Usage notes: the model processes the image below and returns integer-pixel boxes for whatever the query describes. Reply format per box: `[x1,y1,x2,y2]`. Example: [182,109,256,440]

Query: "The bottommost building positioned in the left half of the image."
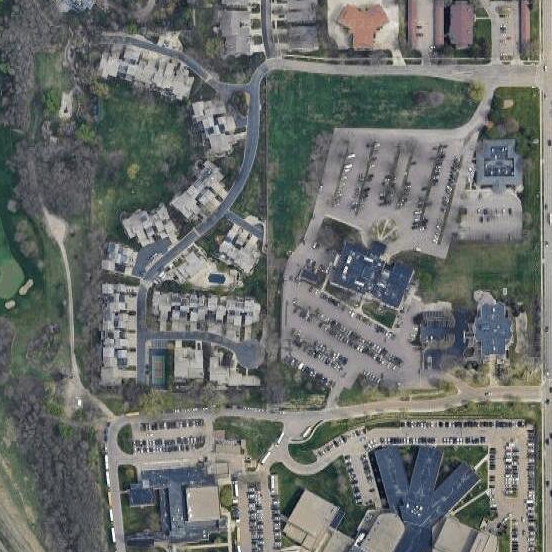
[128,463,230,547]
